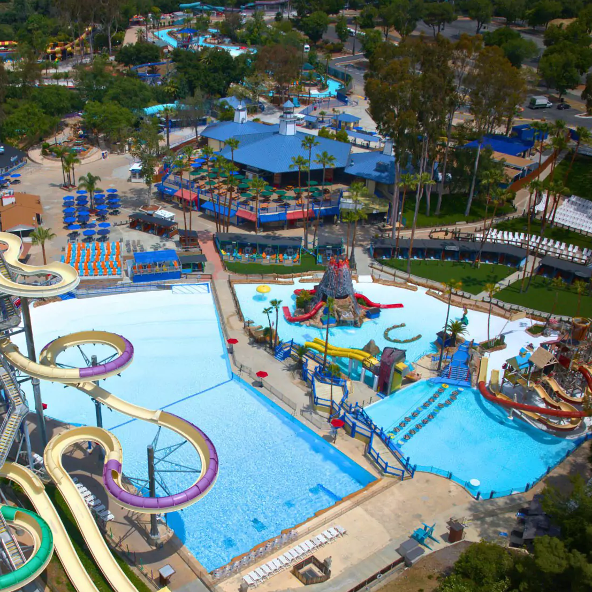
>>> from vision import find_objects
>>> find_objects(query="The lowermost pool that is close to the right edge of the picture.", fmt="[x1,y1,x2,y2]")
[365,380,592,497]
